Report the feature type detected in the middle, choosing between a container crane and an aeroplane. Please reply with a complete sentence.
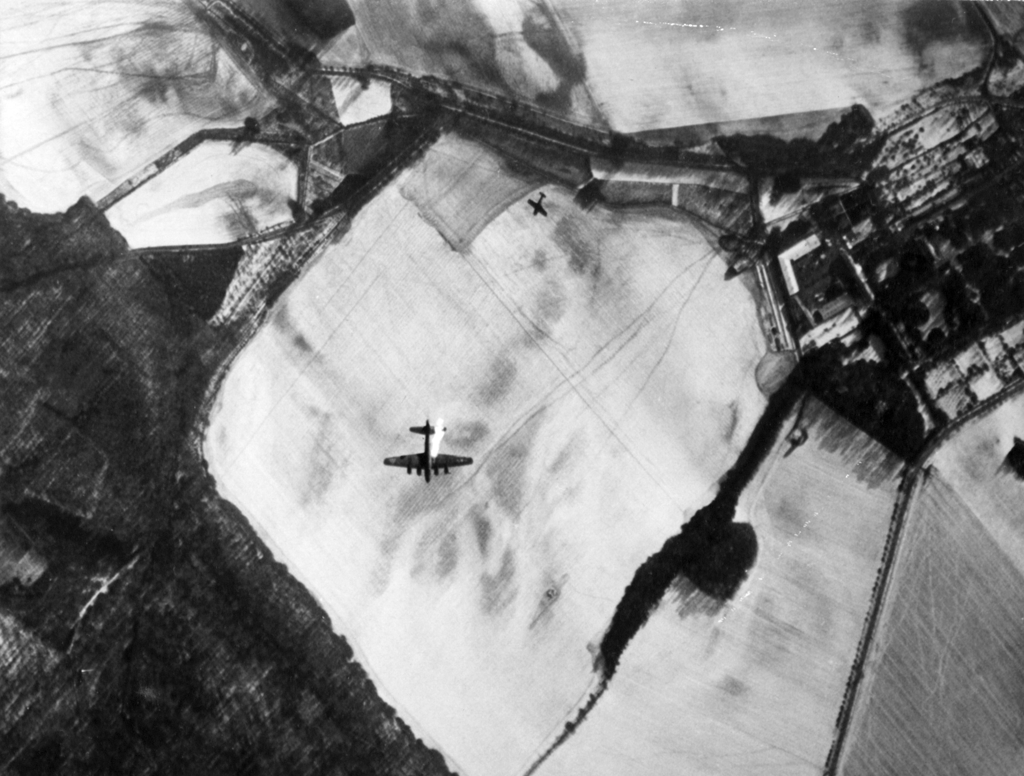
There is an aeroplane in the middle.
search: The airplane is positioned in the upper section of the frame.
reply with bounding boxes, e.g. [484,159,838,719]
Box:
[528,194,547,218]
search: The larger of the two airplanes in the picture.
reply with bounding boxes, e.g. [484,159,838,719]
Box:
[383,420,473,483]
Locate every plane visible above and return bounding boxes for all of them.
[528,194,547,218]
[383,420,473,483]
